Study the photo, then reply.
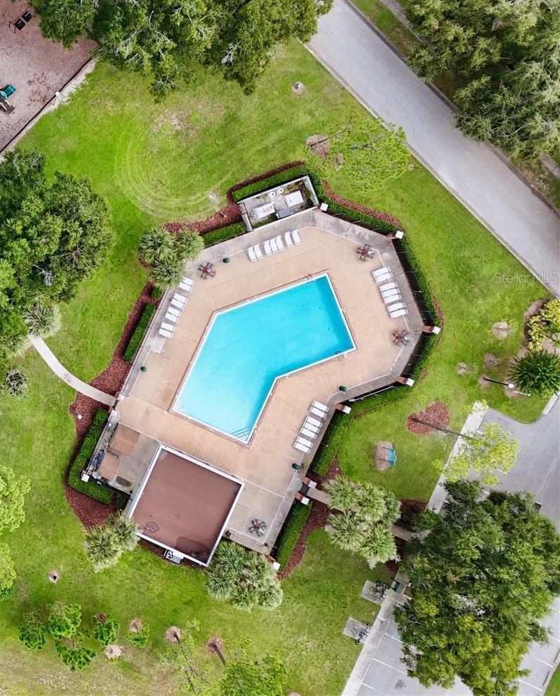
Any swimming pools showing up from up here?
Yes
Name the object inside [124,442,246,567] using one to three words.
building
